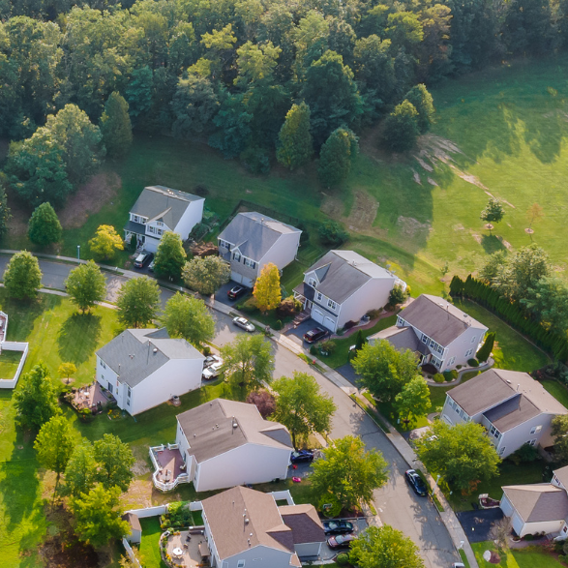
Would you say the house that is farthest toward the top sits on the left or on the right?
left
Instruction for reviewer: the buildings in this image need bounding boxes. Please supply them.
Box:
[194,485,326,568]
[95,326,206,417]
[151,397,294,494]
[499,450,568,534]
[122,176,203,246]
[118,520,145,551]
[211,211,302,287]
[366,293,488,375]
[441,367,568,459]
[291,250,395,331]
